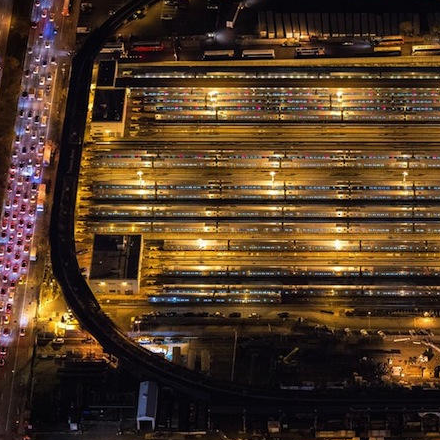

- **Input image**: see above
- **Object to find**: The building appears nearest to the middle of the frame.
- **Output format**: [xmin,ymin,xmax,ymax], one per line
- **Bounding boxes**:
[89,232,143,293]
